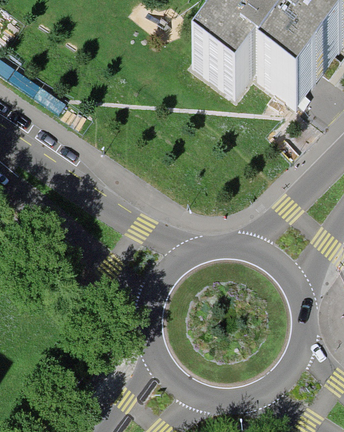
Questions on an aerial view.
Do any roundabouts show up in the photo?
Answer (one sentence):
Yes, this view includes a roundabout.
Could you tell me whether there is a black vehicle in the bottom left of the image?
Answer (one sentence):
No, in the bottom left of the image there is no black vehicle.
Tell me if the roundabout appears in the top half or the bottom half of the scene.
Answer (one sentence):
It is in the bottom half that the roundabout appears.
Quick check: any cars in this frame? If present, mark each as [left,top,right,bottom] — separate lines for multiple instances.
[0,170,10,186]
[35,128,58,148]
[0,100,10,114]
[298,298,312,322]
[57,144,80,164]
[310,342,328,364]
[8,110,32,130]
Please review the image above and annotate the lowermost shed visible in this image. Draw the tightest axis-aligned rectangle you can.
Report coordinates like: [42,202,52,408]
[35,88,66,116]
